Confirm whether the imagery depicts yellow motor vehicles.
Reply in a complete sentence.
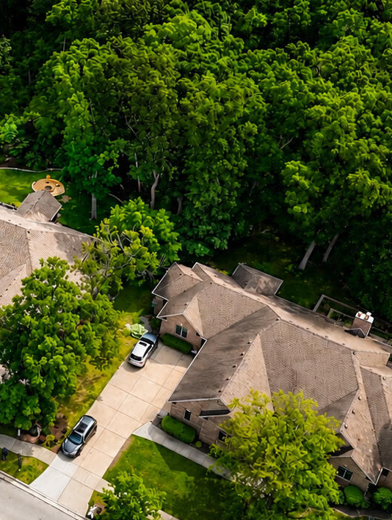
No, no yellow motor vehicle can be seen from above.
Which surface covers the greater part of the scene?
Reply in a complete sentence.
The scene is dominated by trees.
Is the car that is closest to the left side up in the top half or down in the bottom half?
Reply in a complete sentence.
Seen from above, the car that is closest to the left side lies in the bottom half of the view.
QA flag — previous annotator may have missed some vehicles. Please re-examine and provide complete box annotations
[127,331,164,370]
[61,415,102,462]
